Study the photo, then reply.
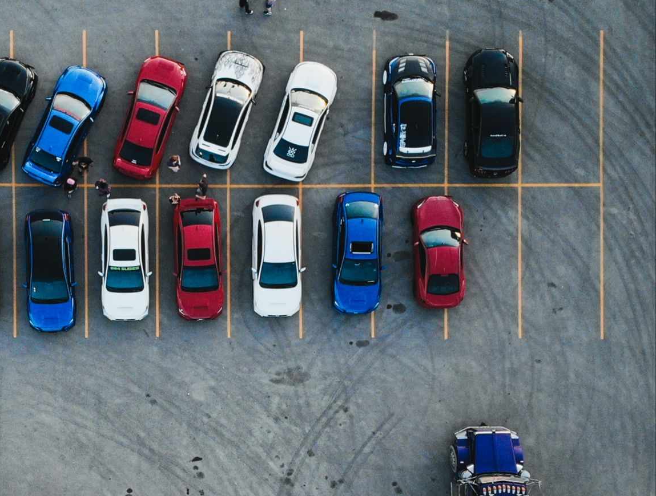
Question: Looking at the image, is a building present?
No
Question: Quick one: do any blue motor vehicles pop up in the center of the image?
Yes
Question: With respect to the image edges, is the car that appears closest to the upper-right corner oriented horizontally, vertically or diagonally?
vertically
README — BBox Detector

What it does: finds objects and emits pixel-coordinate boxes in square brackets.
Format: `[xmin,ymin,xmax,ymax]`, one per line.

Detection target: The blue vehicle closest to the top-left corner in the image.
[21,65,105,186]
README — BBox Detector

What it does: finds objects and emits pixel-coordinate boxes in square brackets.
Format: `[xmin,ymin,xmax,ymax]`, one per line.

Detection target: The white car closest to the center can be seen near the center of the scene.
[249,193,308,317]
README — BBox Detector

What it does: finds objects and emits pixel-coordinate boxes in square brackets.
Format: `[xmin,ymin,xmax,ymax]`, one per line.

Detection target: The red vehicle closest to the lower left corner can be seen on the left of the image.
[170,197,230,320]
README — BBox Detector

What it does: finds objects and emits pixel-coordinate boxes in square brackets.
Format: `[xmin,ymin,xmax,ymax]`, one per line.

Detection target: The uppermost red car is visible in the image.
[109,56,185,180]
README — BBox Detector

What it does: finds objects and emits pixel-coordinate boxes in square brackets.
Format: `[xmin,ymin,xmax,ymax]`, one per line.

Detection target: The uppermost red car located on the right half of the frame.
[411,195,472,309]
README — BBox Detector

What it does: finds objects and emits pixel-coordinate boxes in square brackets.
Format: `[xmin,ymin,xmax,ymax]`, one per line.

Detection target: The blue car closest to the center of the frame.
[331,189,390,314]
